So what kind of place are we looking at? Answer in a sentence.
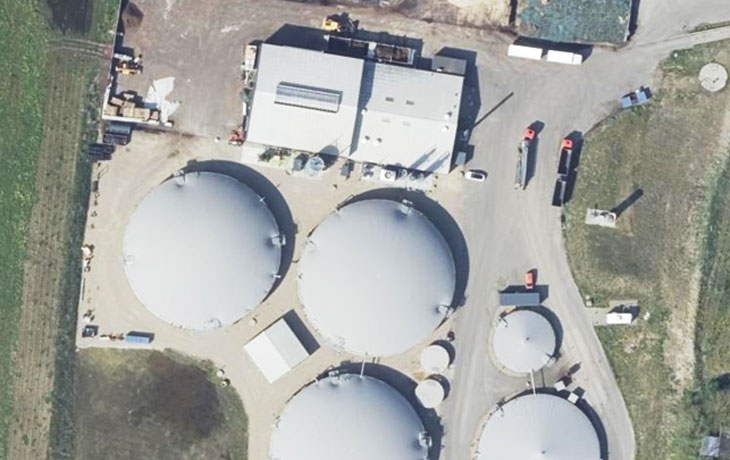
The area seen from above is an industrial area.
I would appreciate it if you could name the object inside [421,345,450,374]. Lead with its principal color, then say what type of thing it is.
white silo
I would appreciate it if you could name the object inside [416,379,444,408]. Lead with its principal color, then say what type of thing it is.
white silo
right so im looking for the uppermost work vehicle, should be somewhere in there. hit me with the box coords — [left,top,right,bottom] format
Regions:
[323,19,355,31]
